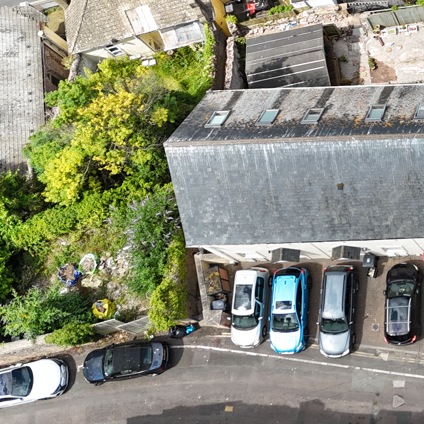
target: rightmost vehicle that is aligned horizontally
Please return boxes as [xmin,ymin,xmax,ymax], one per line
[85,339,172,388]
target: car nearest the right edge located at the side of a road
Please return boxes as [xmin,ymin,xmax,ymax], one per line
[380,267,423,345]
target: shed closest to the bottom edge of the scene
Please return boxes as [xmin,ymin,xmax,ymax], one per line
[204,267,233,295]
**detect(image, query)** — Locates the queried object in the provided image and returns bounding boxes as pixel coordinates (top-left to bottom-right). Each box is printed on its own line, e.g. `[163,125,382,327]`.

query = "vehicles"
[85,339,172,388]
[380,267,423,345]
[265,268,312,354]
[225,268,272,347]
[313,267,360,358]
[0,358,71,408]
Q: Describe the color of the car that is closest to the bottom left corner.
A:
white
